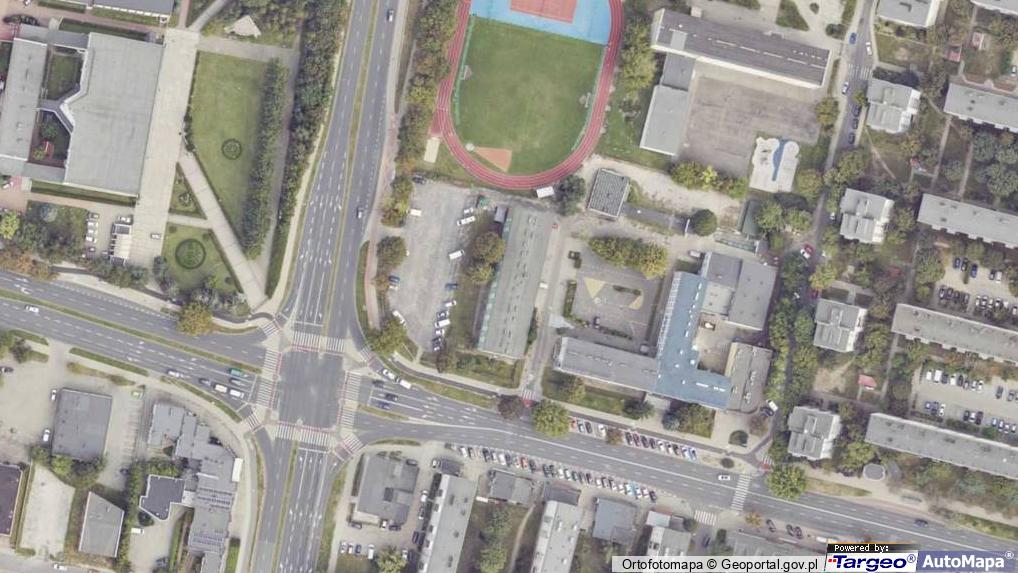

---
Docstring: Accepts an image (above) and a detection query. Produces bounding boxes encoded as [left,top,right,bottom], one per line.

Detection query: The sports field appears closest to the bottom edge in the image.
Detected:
[451,13,607,180]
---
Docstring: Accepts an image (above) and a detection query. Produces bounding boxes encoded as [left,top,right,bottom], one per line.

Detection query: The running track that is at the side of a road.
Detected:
[428,0,624,193]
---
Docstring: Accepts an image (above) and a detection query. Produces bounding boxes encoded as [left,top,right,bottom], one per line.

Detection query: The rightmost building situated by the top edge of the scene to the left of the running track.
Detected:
[226,15,260,37]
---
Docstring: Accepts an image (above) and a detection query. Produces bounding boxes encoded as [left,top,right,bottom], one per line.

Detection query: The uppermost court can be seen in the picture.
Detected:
[469,0,610,44]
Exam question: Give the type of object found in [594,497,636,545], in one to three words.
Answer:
building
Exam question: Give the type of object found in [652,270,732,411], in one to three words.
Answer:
building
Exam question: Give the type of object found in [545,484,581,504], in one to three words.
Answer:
shed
